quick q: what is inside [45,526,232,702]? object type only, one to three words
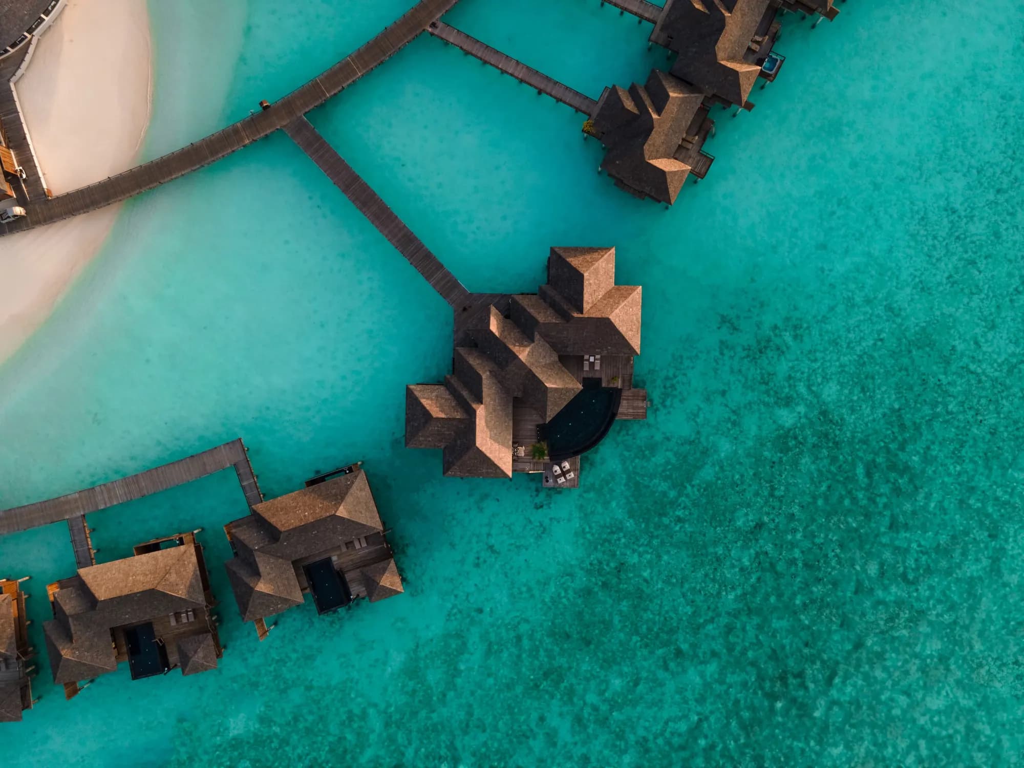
house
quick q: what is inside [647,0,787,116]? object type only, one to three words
house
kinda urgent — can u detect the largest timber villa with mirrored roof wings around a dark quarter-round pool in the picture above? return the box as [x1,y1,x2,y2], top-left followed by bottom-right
[405,245,649,488]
